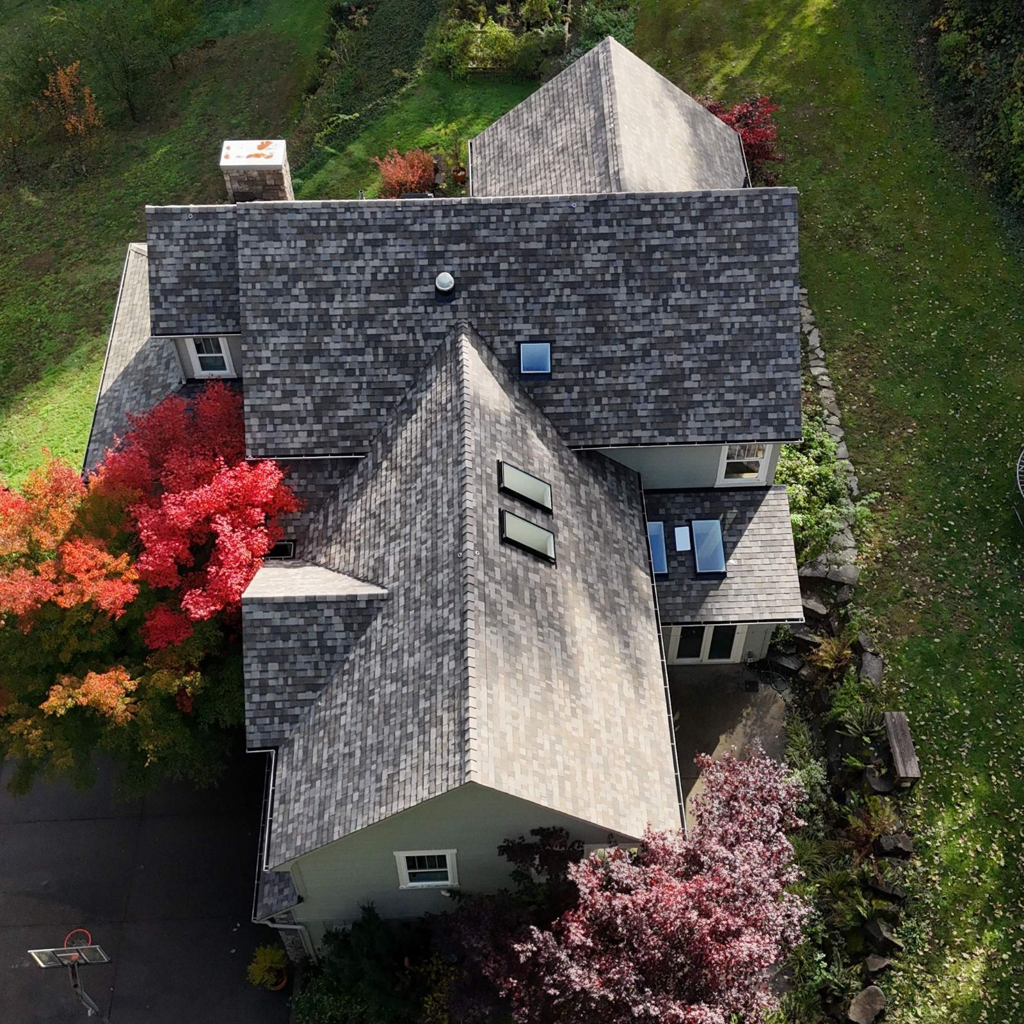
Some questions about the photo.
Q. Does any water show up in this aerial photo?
No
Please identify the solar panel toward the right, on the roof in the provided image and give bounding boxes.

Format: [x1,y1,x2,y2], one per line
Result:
[674,524,691,550]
